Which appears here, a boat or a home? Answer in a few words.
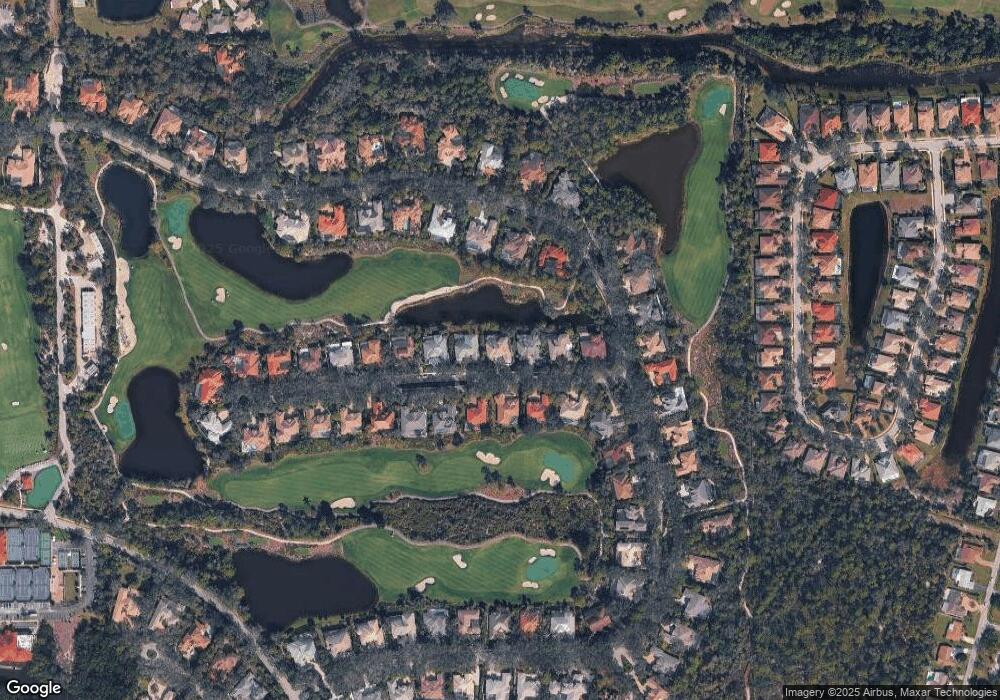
home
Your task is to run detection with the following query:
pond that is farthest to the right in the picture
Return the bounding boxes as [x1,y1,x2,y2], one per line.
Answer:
[942,194,1000,457]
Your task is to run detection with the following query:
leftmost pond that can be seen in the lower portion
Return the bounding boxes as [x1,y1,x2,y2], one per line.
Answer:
[120,366,202,480]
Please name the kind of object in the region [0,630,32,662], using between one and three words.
building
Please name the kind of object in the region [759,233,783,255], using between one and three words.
house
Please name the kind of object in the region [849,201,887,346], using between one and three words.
pond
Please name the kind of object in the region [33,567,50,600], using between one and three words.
tennis court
